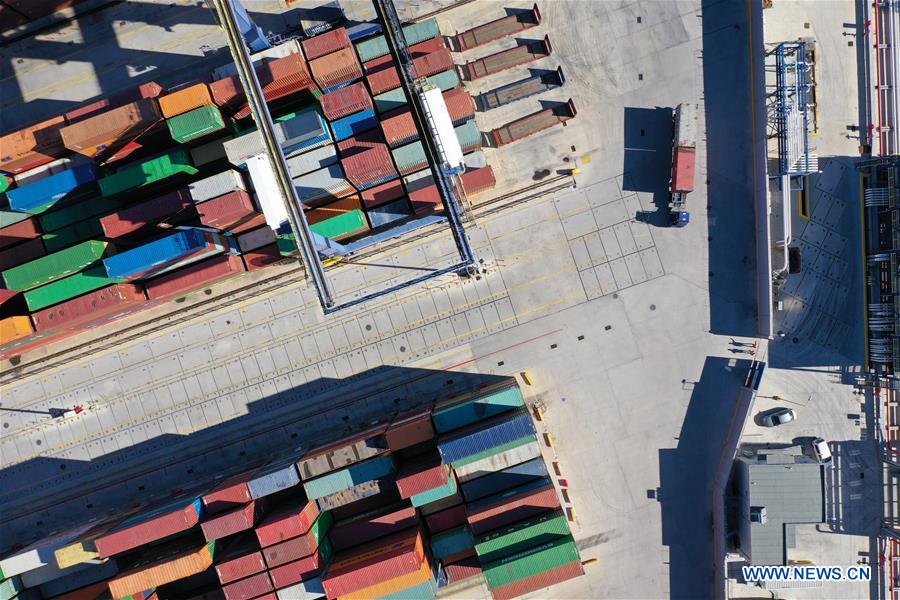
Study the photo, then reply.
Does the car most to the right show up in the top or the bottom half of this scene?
bottom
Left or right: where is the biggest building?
right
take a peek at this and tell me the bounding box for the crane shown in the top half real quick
[210,0,485,314]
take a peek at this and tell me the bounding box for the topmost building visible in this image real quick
[731,444,823,566]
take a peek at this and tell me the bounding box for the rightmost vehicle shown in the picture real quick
[808,435,834,466]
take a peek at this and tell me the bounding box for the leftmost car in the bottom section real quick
[764,407,797,425]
